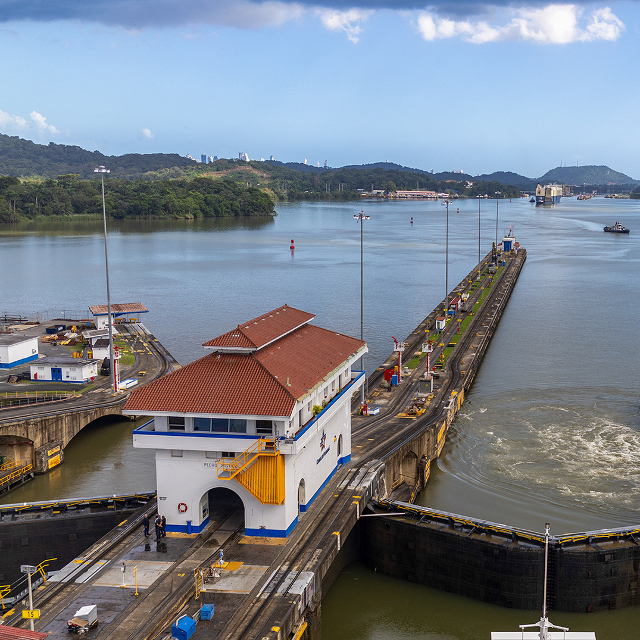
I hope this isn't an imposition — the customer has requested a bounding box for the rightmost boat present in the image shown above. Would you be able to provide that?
[602,217,630,232]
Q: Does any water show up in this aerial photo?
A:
Yes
